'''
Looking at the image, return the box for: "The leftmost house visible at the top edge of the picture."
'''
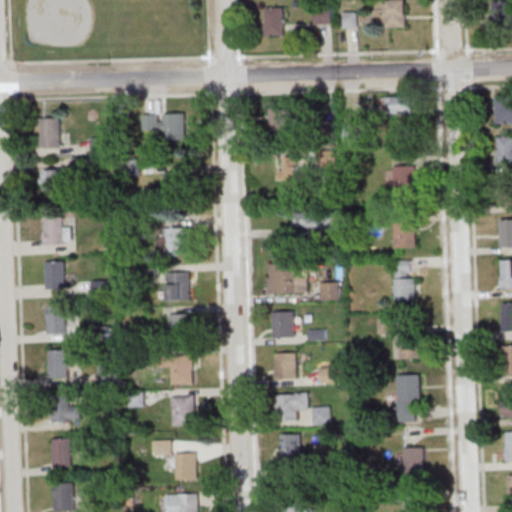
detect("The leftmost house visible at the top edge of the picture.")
[263,8,284,36]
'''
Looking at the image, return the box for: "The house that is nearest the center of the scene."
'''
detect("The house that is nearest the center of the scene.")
[266,264,308,295]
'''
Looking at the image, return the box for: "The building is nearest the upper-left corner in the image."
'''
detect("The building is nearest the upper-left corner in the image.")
[38,118,60,148]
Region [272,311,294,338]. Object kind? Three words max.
house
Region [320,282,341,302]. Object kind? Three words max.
building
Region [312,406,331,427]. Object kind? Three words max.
building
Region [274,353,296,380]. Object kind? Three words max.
house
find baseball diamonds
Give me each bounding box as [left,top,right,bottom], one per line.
[14,0,206,60]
